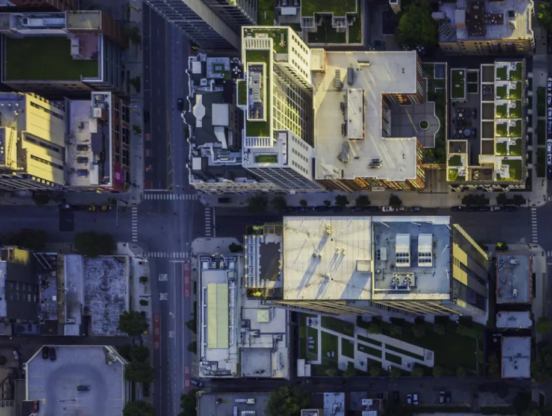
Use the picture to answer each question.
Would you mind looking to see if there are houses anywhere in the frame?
Yes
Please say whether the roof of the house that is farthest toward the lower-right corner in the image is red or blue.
blue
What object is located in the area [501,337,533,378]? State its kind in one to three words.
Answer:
house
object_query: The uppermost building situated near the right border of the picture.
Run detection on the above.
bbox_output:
[432,0,536,58]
